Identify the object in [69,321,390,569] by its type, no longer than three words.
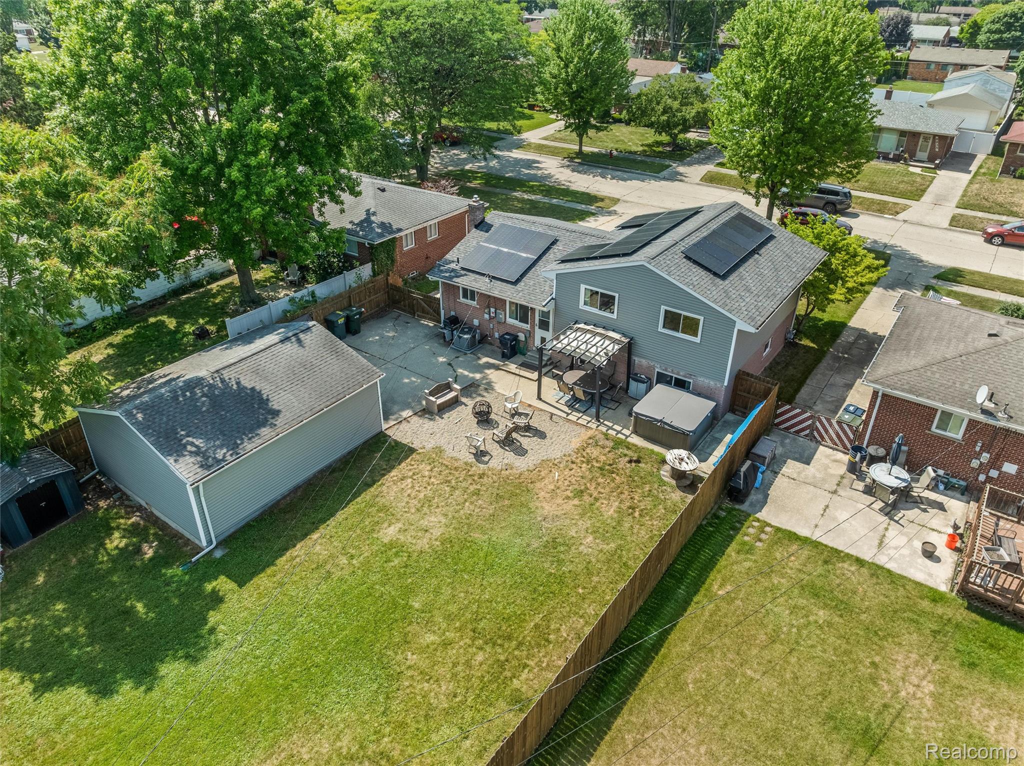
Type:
building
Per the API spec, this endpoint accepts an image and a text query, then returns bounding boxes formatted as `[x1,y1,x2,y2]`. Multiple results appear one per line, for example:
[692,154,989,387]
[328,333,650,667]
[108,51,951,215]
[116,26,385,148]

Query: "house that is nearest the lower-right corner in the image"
[856,293,1024,489]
